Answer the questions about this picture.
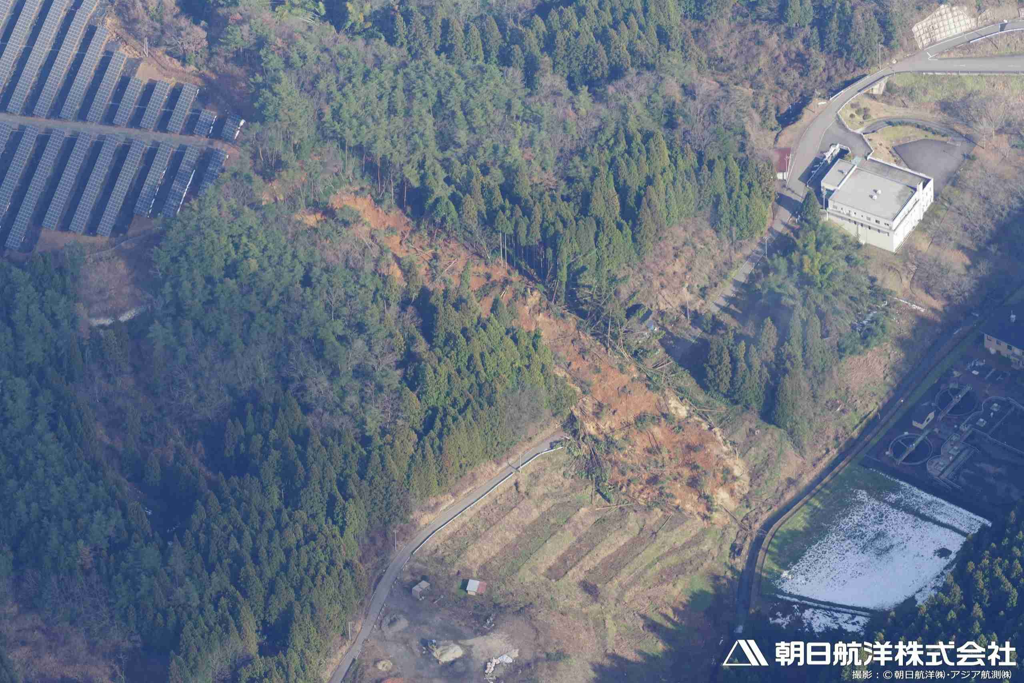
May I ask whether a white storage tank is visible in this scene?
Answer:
No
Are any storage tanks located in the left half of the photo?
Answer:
No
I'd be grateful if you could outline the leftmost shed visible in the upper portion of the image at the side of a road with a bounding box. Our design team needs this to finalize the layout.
[774,147,791,176]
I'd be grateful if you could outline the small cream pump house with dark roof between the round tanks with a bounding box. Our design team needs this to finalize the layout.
[912,406,935,431]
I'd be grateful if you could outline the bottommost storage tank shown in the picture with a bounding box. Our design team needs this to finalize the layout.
[889,429,933,469]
